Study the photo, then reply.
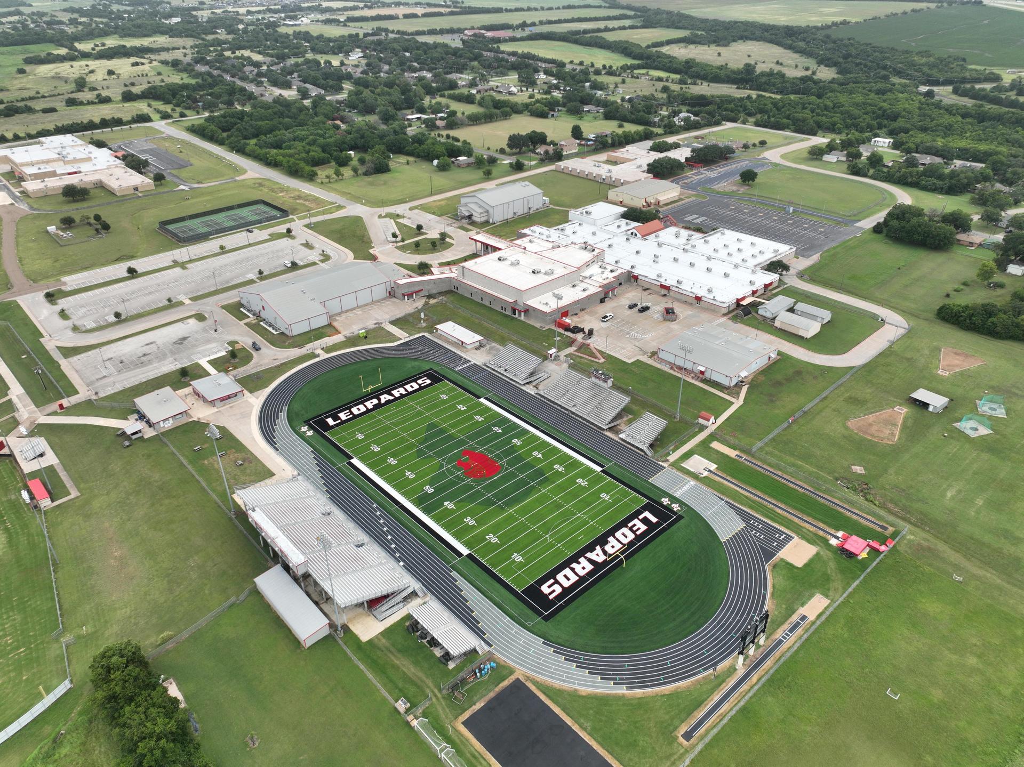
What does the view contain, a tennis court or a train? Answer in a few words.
tennis court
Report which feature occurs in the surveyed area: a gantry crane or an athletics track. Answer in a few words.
athletics track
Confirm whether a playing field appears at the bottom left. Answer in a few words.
Yes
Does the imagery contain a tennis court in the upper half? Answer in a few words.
Yes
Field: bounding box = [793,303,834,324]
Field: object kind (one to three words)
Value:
building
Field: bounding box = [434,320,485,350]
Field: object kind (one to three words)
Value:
building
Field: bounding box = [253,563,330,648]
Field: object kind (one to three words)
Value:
shed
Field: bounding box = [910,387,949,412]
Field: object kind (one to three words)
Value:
shed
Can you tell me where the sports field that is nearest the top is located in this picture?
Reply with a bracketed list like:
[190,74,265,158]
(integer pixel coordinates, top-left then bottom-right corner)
[326,380,647,591]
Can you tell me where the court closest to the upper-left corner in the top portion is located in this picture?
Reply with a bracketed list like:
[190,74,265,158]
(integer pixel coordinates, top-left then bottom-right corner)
[164,204,282,233]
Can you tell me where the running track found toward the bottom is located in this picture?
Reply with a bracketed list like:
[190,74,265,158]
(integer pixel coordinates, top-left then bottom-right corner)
[257,335,796,693]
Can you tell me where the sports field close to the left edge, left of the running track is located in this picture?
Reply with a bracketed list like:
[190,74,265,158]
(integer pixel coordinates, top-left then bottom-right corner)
[0,458,70,744]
